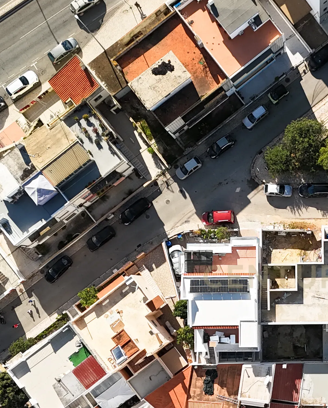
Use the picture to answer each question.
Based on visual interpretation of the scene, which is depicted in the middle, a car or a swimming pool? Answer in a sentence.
You can see a car in the middle.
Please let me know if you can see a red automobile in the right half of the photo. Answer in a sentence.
Yes, the scene does show a red automobile in the right half of the photo.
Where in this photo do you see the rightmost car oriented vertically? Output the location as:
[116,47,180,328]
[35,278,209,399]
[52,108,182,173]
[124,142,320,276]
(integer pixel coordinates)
[165,246,181,281]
